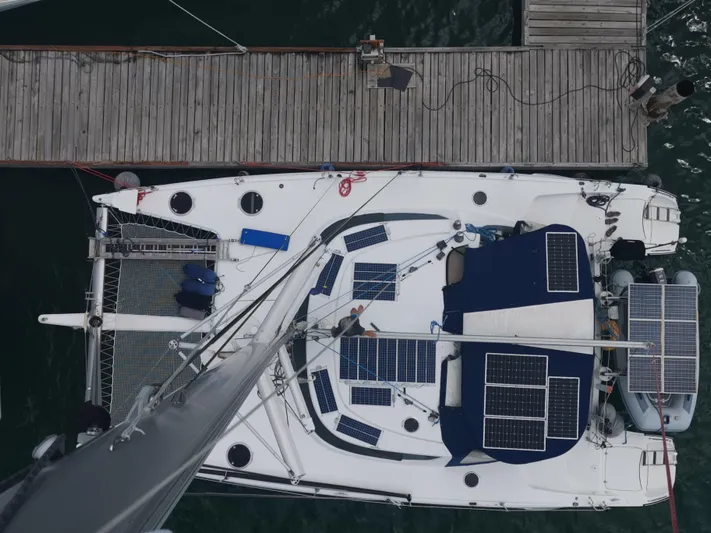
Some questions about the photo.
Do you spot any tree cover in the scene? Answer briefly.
No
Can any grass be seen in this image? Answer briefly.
No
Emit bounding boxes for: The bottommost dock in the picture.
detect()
[0,45,648,171]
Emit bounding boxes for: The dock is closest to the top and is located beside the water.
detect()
[522,0,647,46]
